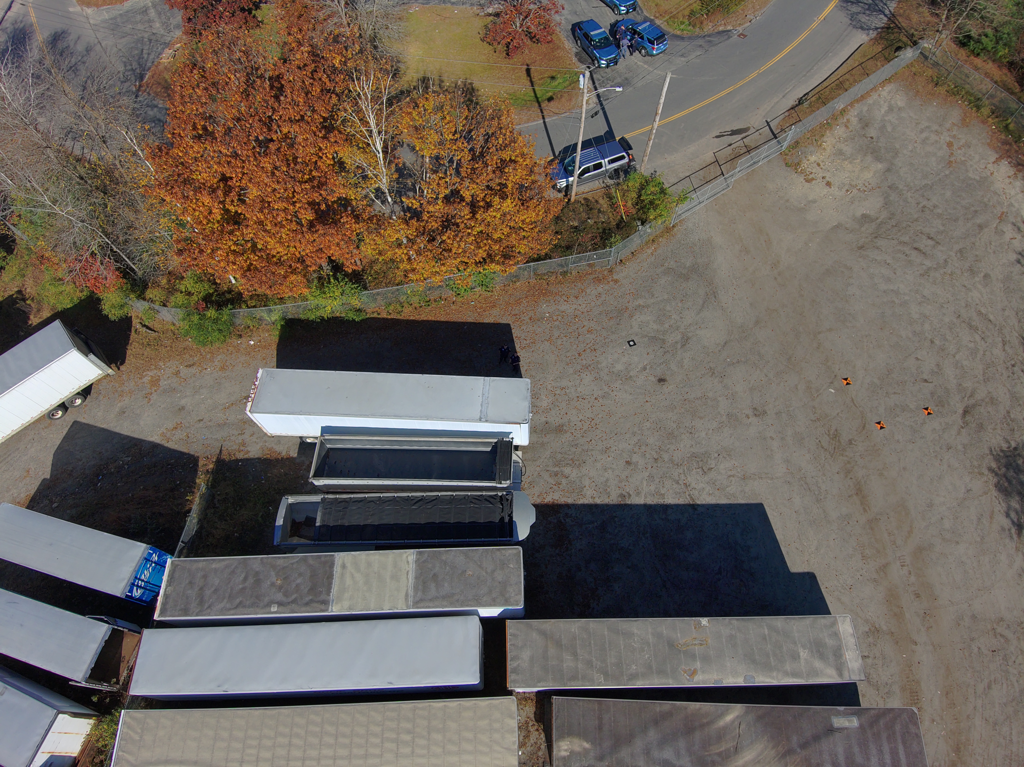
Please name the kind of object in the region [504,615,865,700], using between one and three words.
trailer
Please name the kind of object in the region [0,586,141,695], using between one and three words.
trailer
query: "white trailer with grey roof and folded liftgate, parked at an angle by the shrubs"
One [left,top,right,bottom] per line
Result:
[0,318,122,448]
